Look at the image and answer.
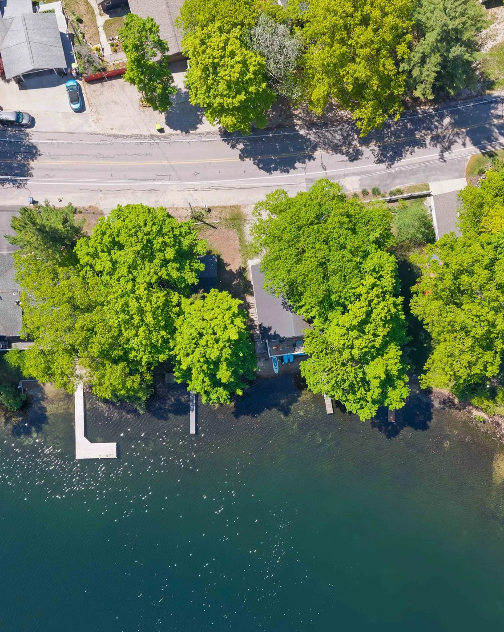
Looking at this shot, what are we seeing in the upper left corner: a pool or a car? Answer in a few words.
car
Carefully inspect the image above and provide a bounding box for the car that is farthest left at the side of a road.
[0,110,30,128]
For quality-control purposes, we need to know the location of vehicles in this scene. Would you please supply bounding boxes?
[65,80,84,112]
[0,110,30,128]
